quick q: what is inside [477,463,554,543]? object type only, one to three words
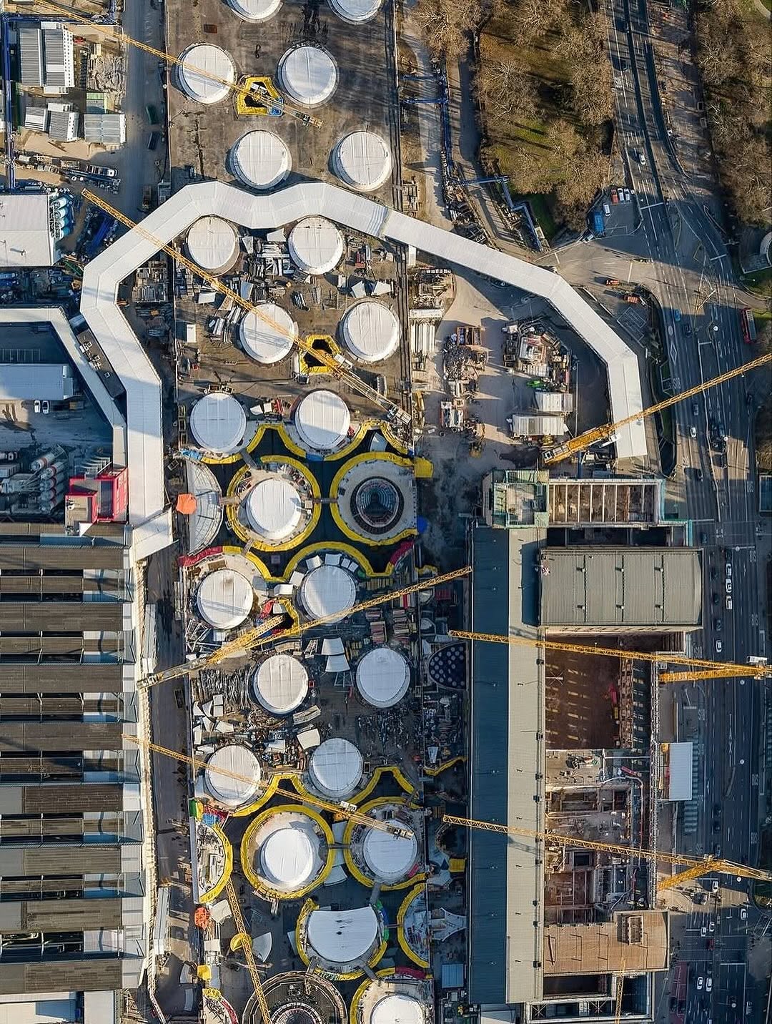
building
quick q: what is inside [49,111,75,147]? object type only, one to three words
building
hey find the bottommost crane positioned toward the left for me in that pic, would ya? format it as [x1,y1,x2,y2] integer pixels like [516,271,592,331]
[224,883,292,1024]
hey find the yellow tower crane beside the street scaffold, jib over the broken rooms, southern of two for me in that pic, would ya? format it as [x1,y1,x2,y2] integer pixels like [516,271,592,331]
[443,815,772,881]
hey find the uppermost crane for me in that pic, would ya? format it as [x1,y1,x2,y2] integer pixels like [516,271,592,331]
[45,0,321,127]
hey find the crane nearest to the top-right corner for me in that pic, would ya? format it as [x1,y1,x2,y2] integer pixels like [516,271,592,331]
[547,352,772,475]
